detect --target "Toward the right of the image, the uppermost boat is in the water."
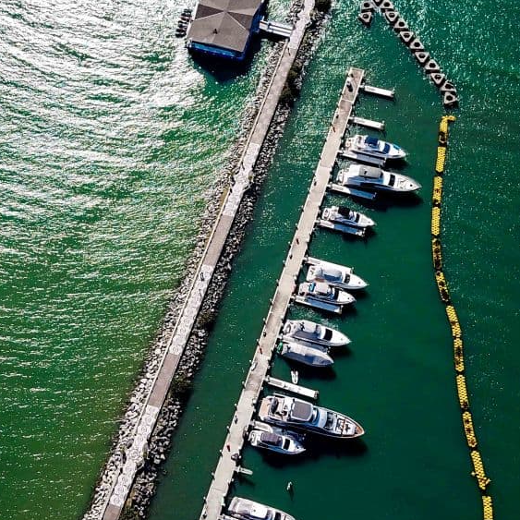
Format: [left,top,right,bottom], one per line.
[344,134,407,160]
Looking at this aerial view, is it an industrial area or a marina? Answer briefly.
marina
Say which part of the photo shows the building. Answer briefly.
top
